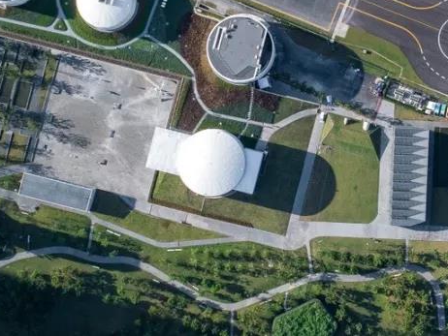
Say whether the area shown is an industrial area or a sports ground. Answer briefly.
industrial area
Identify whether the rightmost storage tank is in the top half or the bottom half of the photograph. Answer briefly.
top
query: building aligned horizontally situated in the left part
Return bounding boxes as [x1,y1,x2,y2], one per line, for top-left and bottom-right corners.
[18,169,101,212]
